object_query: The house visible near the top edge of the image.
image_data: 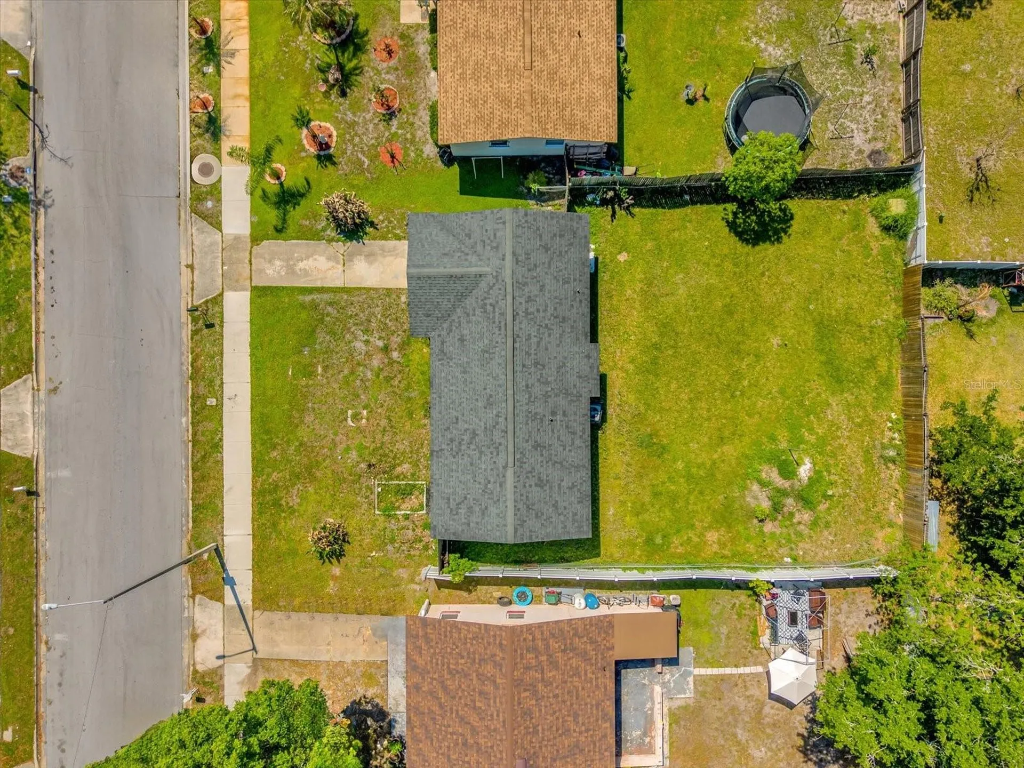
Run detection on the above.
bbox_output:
[438,0,619,155]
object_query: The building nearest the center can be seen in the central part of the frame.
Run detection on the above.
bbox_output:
[408,208,600,543]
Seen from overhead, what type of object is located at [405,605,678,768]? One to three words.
house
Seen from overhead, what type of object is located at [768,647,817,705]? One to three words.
umbrella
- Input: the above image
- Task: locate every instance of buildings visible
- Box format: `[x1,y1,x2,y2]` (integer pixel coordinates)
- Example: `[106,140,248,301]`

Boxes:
[405,605,678,768]
[408,208,600,543]
[438,0,619,155]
